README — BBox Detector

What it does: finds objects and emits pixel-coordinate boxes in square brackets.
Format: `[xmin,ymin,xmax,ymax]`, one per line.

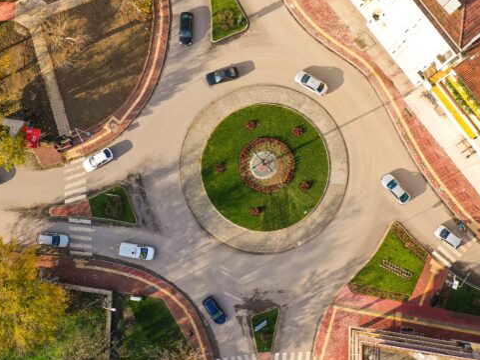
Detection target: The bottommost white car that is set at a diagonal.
[433,224,464,251]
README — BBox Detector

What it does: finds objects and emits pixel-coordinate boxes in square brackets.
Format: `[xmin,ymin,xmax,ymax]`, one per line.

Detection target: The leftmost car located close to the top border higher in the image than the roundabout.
[177,13,194,45]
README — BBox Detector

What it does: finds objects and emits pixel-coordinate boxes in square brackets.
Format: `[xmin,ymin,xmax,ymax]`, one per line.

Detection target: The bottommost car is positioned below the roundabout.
[199,292,229,326]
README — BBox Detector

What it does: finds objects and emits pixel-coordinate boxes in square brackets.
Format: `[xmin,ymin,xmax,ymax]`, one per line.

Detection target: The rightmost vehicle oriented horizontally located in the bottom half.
[117,242,156,261]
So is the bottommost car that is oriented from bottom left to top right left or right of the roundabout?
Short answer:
to the left of it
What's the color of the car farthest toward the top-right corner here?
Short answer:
white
